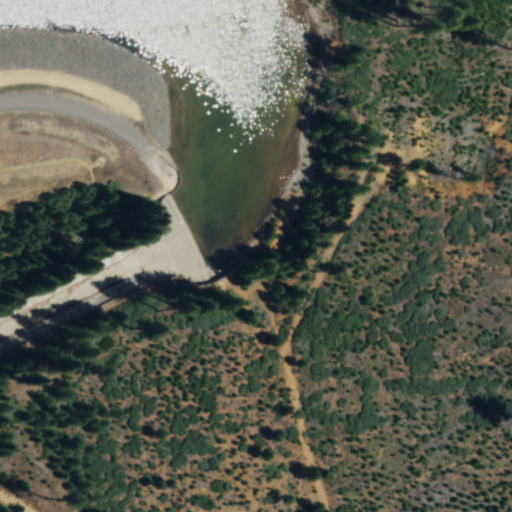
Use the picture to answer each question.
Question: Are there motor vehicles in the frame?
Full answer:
No, the picture doesn't show any motor vehicle.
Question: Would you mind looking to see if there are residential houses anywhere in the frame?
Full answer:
No, there is no residential house in the image.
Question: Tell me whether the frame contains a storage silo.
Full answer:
No, there appears to be no storage silo in this shot.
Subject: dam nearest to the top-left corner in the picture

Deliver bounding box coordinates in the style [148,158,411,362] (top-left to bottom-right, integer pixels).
[0,28,170,211]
